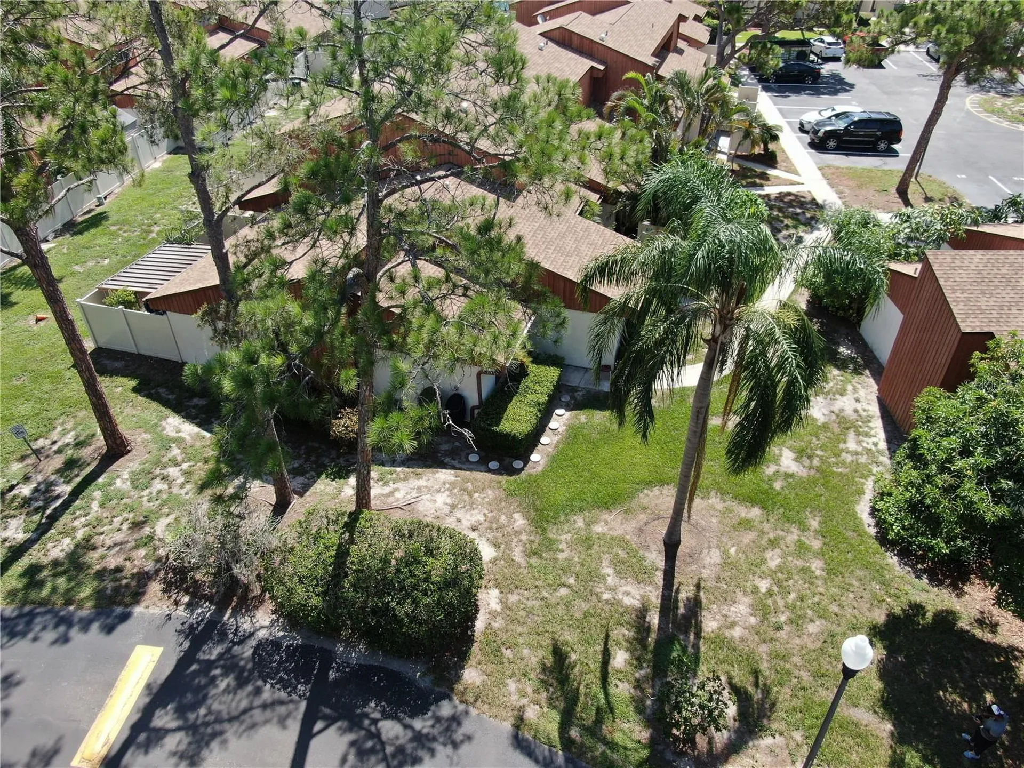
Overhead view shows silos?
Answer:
No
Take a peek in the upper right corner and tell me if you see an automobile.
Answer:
Yes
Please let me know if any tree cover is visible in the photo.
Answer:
Yes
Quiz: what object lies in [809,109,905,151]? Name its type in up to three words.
car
